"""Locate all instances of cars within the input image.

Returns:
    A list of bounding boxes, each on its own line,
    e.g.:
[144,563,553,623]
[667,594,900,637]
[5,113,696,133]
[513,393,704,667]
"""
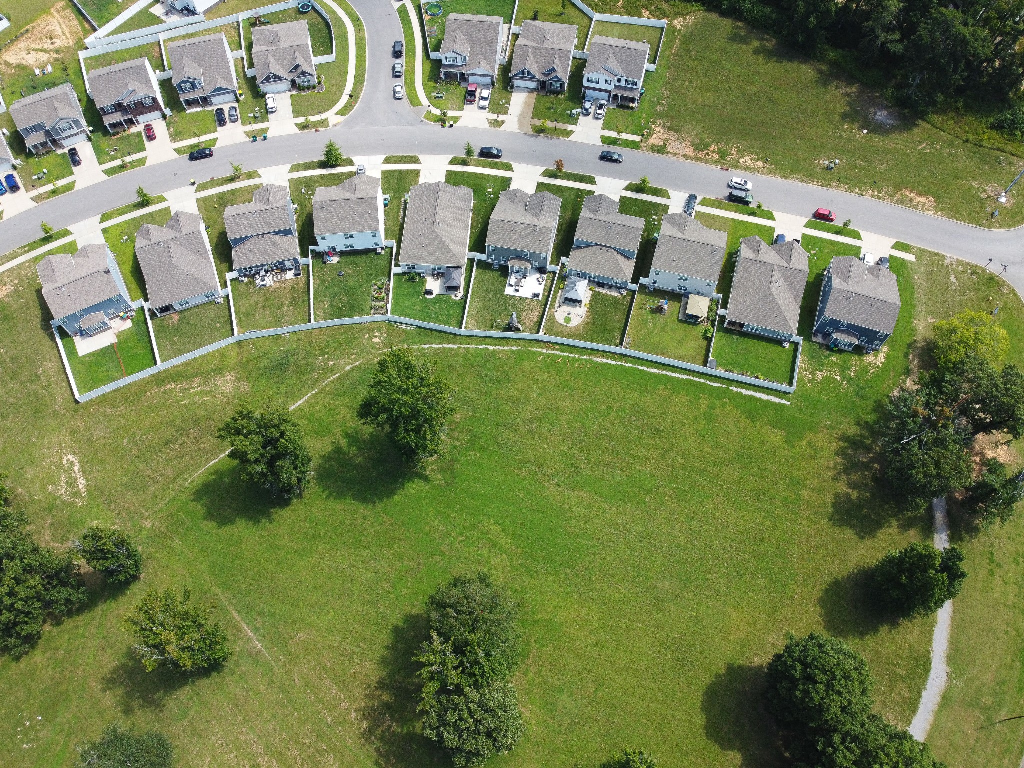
[729,177,752,191]
[813,206,838,222]
[188,146,214,162]
[393,40,404,56]
[3,172,21,192]
[582,98,594,115]
[478,144,503,158]
[878,254,892,268]
[862,251,876,264]
[67,148,82,166]
[265,94,278,112]
[393,60,403,76]
[479,90,490,108]
[684,194,698,214]
[595,100,607,118]
[728,187,755,205]
[215,109,228,126]
[143,124,157,141]
[600,150,625,163]
[355,162,367,176]
[227,106,240,123]
[394,83,404,99]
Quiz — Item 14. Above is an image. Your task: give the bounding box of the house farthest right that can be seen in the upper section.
[813,257,901,353]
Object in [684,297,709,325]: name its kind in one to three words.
gazebo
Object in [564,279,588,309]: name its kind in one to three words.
gazebo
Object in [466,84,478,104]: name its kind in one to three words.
vehicle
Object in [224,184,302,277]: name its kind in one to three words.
house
